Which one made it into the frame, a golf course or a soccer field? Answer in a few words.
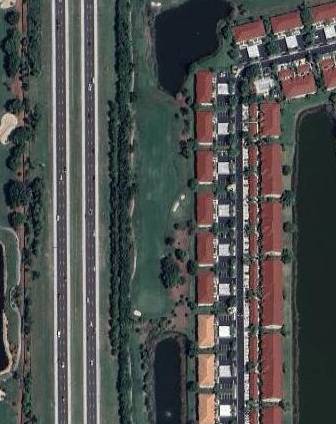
golf course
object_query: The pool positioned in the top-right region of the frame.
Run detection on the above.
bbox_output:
[255,78,274,95]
